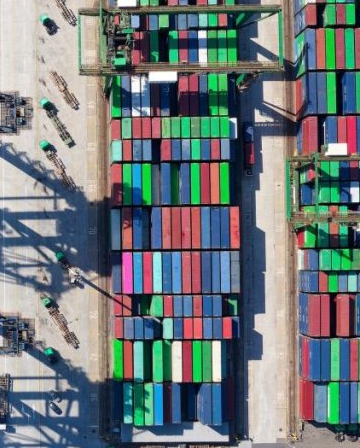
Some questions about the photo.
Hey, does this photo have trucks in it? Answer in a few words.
Yes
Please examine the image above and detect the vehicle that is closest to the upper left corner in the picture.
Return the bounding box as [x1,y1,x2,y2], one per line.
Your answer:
[39,12,57,34]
